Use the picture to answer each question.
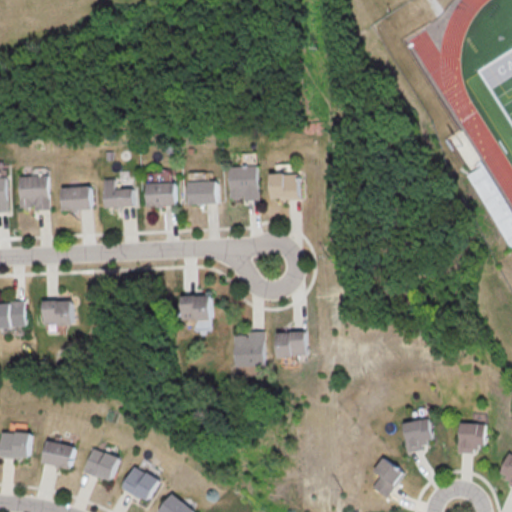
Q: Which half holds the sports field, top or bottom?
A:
top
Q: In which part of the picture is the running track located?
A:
top right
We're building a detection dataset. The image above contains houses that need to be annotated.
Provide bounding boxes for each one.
[0,302,30,334]
[84,448,126,481]
[226,154,262,200]
[403,419,434,454]
[458,412,494,454]
[232,330,268,367]
[274,332,310,368]
[178,296,212,327]
[39,301,74,336]
[123,462,168,501]
[16,169,54,210]
[58,185,92,212]
[102,171,141,208]
[370,456,404,497]
[498,452,512,486]
[143,169,177,209]
[0,424,34,460]
[268,165,301,200]
[157,492,204,512]
[41,436,80,470]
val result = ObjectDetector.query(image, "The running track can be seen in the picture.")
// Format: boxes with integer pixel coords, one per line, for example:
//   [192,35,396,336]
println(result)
[404,0,512,210]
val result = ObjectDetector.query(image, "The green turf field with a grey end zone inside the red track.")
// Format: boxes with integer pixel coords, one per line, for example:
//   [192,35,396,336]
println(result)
[461,0,512,164]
